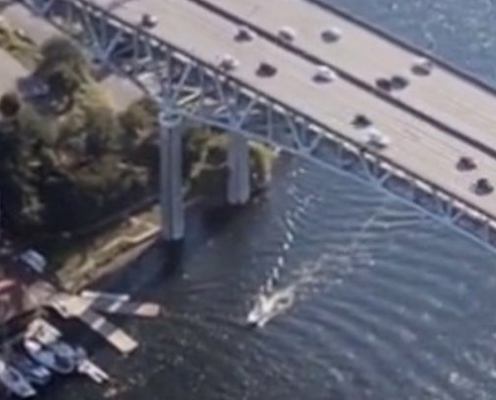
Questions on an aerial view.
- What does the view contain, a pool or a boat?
boat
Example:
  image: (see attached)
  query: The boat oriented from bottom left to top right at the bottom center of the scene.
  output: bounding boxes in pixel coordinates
[249,303,271,321]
